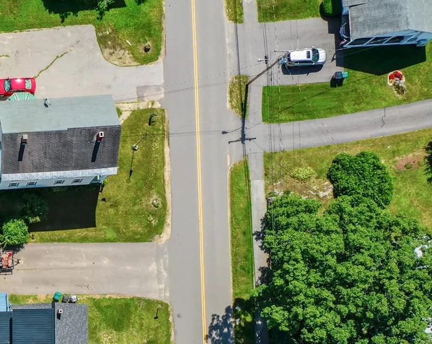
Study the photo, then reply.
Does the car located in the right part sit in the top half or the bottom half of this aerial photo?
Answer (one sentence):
The top half of the photo is where the car located in the right part is.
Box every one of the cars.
[0,77,36,99]
[279,48,324,72]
